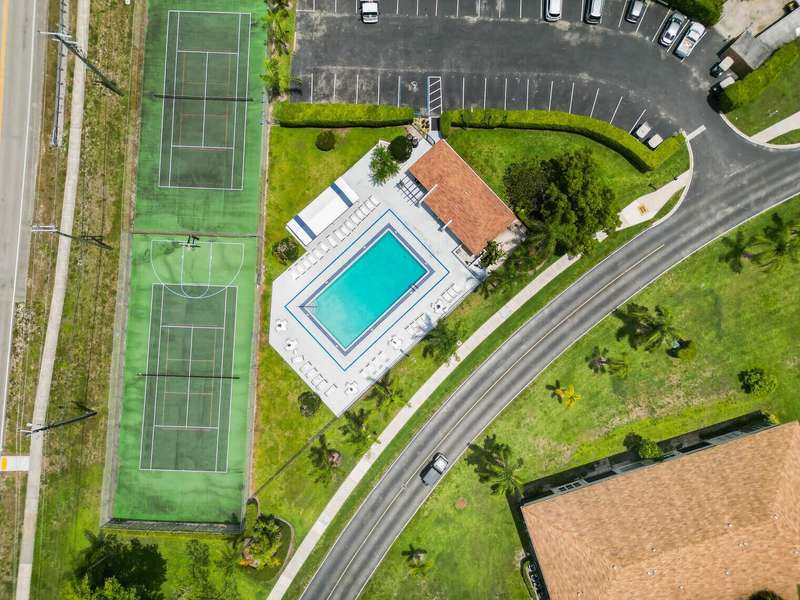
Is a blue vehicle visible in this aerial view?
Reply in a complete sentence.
No, no blue vehicle is visible in the scene.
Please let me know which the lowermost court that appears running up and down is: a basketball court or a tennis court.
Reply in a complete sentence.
I'd identify the lowermost court that appears running up and down as a tennis court.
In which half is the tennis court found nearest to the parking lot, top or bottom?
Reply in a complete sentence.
The top half of the photo is where the tennis court found nearest to the parking lot is.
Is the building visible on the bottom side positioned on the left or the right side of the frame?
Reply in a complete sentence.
The building visible on the bottom side appears in the right half of the scene.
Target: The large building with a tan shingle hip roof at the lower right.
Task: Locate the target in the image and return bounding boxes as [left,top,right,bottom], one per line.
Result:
[516,420,800,600]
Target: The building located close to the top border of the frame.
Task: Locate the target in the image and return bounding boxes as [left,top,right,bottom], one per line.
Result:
[720,2,800,77]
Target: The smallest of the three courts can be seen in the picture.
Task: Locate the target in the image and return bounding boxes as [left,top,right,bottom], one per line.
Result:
[149,240,245,299]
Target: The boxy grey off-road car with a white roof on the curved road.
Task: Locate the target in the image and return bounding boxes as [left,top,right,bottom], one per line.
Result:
[420,457,449,488]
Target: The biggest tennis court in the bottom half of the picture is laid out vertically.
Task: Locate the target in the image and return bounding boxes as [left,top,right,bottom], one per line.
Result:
[112,234,257,524]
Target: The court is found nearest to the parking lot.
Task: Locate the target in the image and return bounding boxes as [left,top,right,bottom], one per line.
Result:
[132,0,267,237]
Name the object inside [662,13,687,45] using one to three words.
car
